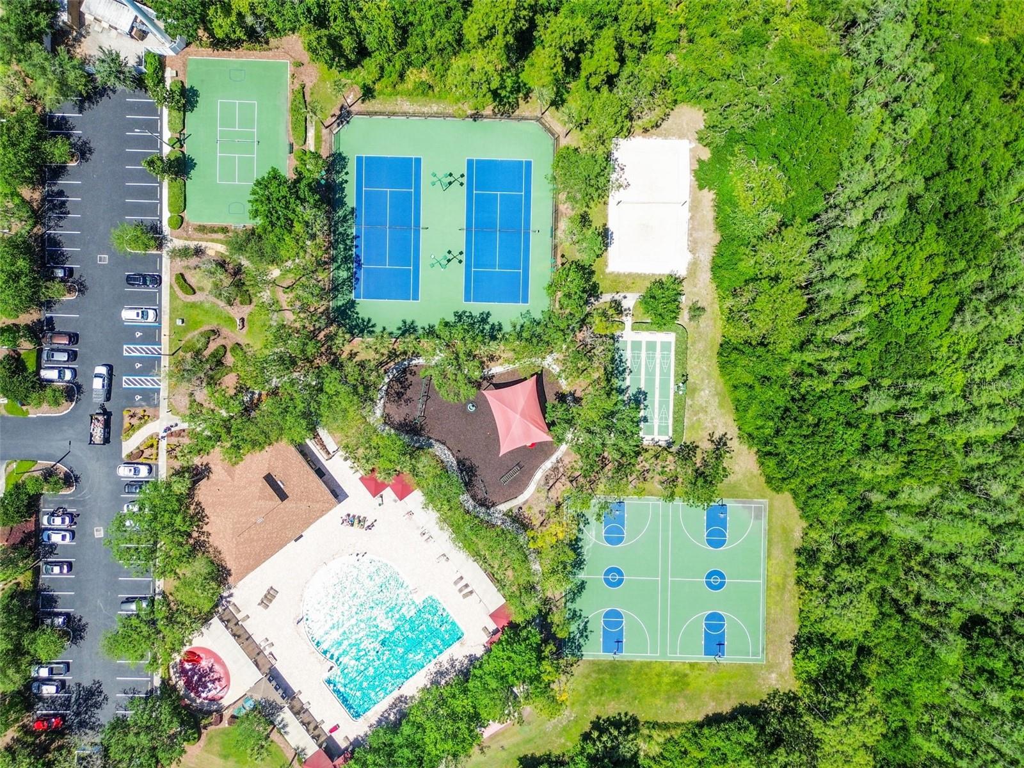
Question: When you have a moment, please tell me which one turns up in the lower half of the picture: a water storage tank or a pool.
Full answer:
You can see a pool in the lower half of the picture.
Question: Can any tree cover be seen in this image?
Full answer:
Yes, there's tree cover in this view.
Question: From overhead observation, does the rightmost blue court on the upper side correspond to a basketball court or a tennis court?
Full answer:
I'd say the rightmost blue court on the upper side is a tennis court.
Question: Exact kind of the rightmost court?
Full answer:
The rightmost court appears to be a basketball court.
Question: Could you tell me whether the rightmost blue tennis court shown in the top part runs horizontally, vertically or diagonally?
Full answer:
I'd say the rightmost blue tennis court shown in the top part is aligned vertically in the picture.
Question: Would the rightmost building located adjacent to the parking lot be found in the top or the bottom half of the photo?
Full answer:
You can find the rightmost building located adjacent to the parking lot in the bottom half.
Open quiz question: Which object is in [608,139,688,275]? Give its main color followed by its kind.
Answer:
white sports court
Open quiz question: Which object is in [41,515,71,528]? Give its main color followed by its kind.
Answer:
white vehicle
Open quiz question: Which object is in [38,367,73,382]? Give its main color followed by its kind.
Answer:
white car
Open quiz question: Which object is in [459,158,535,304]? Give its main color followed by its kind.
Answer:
blue tennis court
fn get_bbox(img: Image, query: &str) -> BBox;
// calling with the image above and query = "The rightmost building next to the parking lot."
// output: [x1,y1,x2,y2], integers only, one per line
[192,429,339,584]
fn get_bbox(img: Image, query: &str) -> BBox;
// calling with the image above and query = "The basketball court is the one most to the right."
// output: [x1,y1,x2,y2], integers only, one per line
[668,503,764,658]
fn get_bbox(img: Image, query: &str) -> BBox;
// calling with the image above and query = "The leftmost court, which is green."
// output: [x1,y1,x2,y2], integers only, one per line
[186,57,289,225]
